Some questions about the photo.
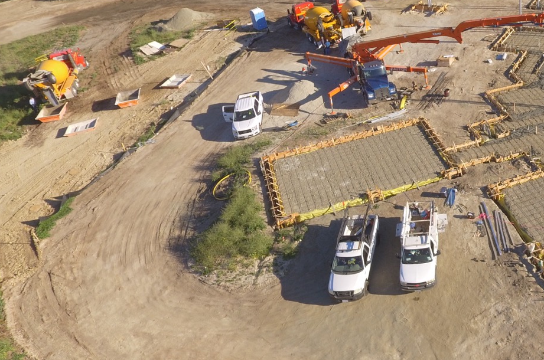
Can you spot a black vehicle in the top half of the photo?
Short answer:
No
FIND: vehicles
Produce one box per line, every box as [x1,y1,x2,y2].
[390,193,447,287]
[329,0,373,43]
[292,3,345,52]
[19,45,88,107]
[217,87,266,136]
[322,200,384,296]
[304,16,544,115]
